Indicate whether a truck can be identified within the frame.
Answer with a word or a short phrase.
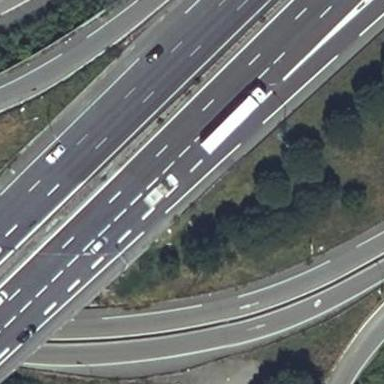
Yes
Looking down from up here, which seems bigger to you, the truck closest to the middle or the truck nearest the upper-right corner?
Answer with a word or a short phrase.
the truck nearest the upper-right corner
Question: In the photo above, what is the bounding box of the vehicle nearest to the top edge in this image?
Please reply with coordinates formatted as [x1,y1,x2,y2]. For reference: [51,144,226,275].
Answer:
[144,43,164,62]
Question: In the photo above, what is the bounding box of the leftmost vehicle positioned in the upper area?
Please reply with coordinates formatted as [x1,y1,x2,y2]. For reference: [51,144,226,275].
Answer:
[46,144,65,162]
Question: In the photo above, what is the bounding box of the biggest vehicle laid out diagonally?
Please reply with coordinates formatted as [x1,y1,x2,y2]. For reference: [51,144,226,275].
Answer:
[200,88,268,155]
